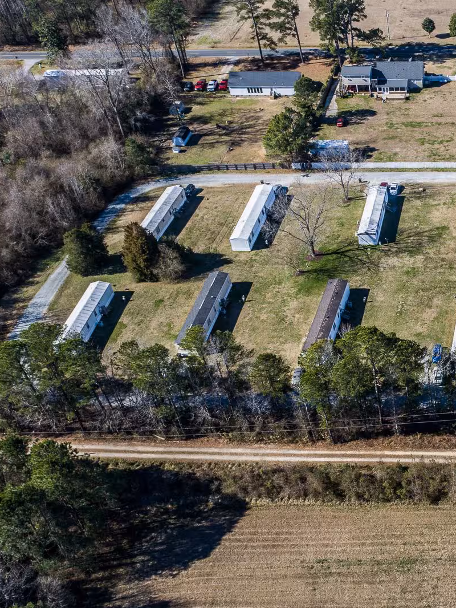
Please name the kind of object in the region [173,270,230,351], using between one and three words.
house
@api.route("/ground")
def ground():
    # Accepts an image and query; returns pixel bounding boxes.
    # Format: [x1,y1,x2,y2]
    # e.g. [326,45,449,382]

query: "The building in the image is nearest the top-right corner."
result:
[342,54,425,100]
